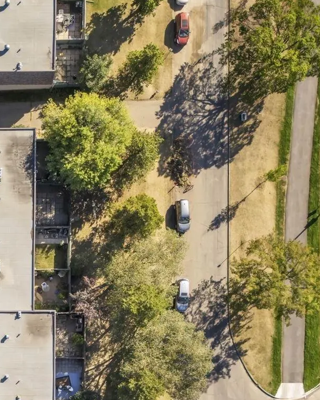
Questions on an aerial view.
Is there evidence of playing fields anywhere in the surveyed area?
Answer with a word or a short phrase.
No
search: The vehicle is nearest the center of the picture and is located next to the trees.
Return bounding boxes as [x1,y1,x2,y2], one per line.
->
[174,199,193,235]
